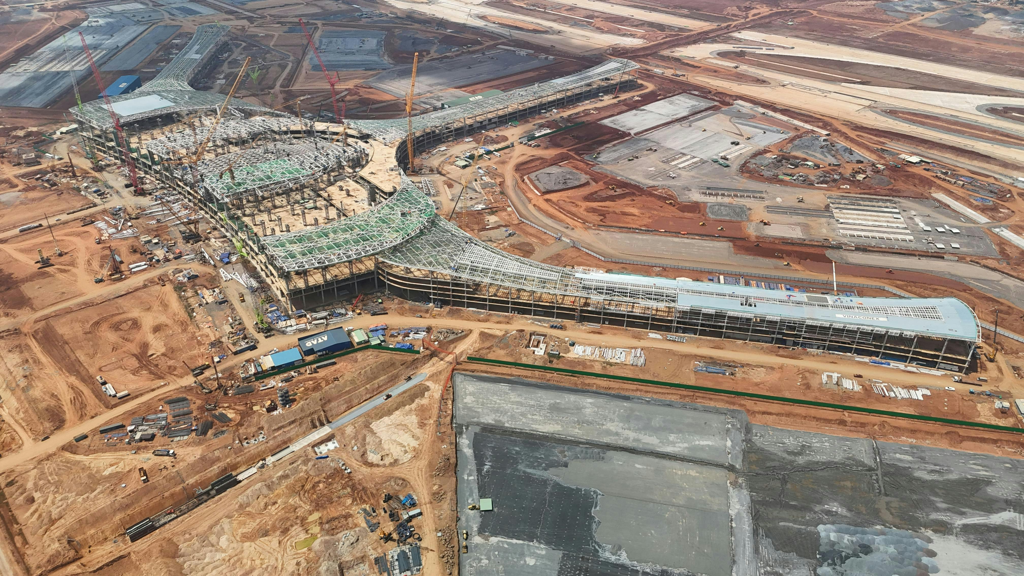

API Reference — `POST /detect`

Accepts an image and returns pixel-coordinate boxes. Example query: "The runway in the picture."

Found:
[391,0,1024,144]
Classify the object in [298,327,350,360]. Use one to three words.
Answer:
shed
